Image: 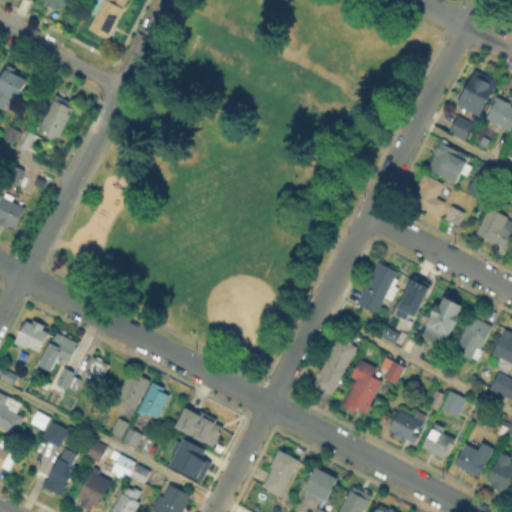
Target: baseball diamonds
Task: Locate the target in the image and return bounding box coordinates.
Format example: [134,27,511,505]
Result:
[139,224,289,360]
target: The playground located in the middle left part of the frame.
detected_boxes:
[62,176,127,261]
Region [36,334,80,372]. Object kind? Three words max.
house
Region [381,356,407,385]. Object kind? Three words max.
building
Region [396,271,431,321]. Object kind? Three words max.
house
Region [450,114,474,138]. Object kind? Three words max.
building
